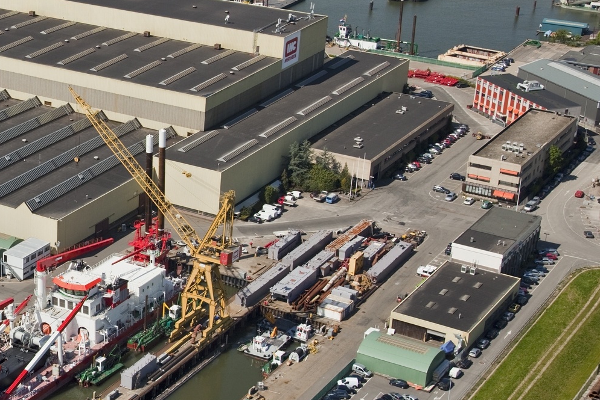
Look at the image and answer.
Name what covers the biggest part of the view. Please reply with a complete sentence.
The largest share of the image is taken up by buildings.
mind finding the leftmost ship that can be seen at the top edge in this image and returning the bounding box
[331,0,418,54]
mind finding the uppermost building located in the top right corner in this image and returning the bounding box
[533,15,591,39]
